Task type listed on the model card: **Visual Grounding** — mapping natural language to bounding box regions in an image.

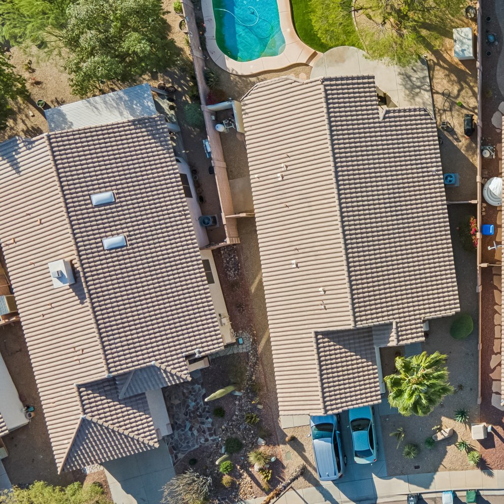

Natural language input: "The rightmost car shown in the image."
[350,405,379,465]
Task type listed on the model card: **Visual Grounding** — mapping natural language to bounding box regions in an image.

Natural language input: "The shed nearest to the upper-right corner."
[453,27,476,63]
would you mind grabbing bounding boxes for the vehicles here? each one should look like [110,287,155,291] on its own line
[315,413,349,479]
[350,405,379,465]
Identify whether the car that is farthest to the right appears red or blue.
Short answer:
blue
